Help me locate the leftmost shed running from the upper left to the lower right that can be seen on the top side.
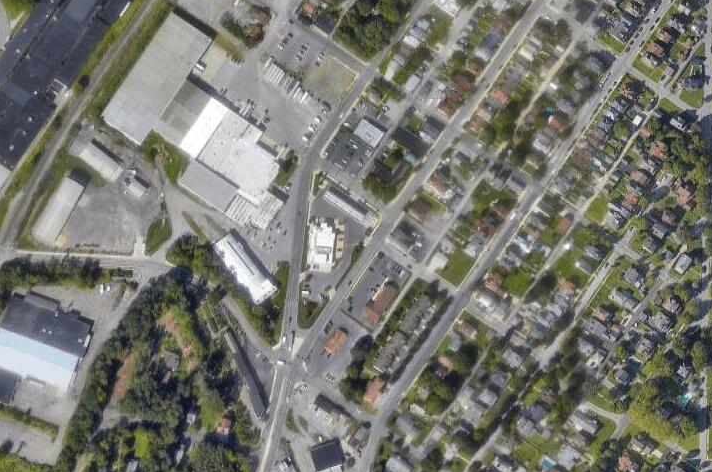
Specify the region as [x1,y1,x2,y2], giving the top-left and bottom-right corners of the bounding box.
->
[81,144,122,182]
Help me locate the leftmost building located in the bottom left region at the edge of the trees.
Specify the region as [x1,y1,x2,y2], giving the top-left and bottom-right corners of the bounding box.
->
[0,292,94,401]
